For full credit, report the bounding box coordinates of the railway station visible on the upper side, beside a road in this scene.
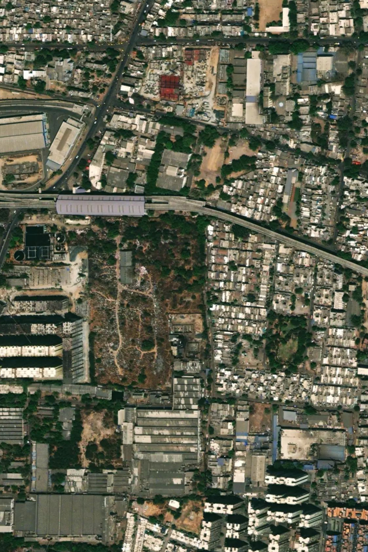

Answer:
[56,195,146,215]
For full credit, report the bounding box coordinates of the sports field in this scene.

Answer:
[193,137,227,187]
